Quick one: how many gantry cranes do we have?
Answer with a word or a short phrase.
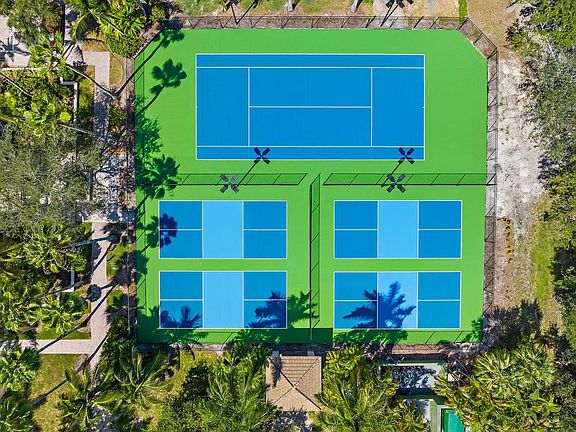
0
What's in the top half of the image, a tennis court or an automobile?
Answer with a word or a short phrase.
tennis court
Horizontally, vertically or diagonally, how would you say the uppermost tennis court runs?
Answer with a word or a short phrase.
horizontally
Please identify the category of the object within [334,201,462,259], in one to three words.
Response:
sports court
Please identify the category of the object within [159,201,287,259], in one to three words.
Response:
sports court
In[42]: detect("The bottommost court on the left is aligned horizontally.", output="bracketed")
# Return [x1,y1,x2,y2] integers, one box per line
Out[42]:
[159,271,287,329]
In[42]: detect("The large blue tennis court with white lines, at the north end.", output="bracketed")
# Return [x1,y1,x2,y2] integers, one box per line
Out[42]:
[196,54,425,160]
